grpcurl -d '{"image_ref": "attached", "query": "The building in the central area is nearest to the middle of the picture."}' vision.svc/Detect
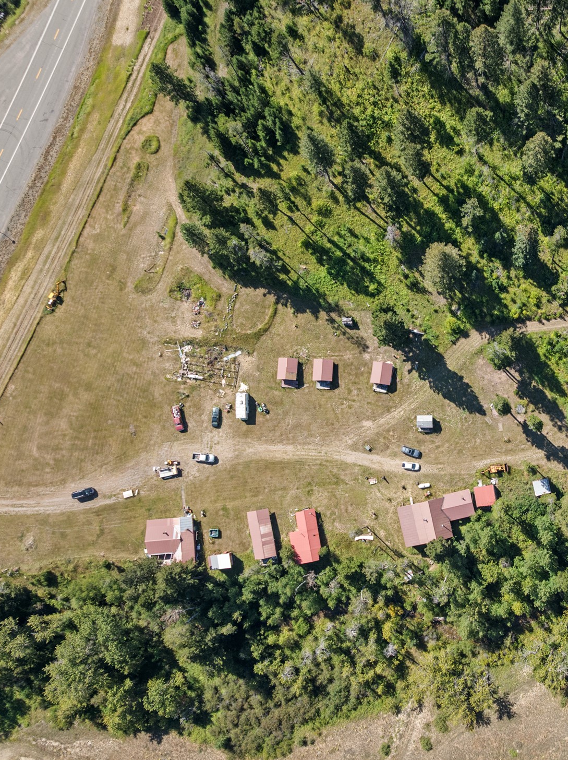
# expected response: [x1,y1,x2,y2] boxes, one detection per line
[278,358,300,388]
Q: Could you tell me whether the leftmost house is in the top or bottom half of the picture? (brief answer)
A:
bottom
